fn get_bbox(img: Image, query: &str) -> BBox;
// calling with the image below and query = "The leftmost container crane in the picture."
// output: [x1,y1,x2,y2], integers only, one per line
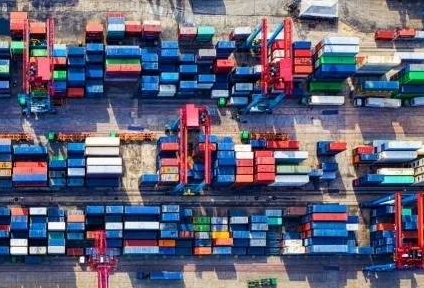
[19,18,58,112]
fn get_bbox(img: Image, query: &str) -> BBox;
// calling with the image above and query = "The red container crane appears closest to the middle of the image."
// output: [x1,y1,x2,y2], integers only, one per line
[164,103,212,195]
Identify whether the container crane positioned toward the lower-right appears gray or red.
red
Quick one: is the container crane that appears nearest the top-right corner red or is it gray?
red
